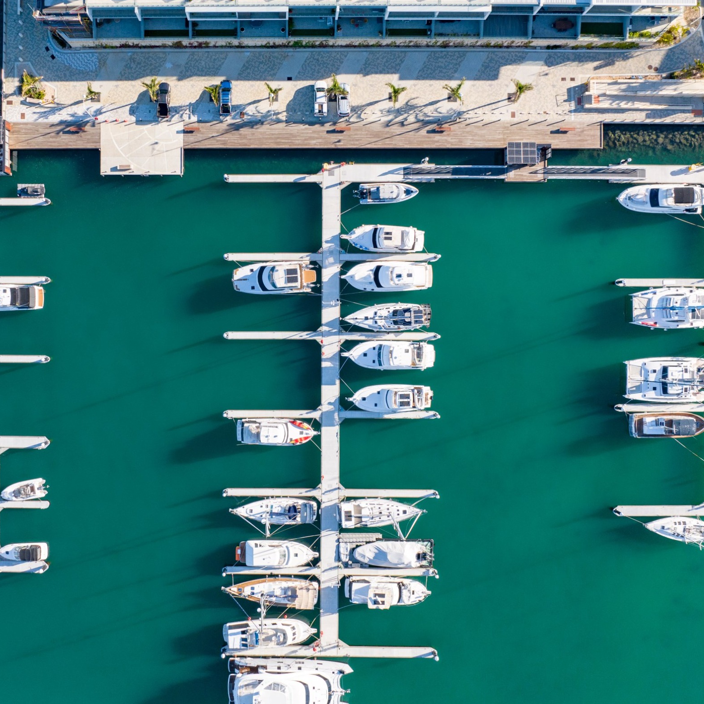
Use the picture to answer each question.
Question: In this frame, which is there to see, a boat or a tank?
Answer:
boat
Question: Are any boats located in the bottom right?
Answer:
Yes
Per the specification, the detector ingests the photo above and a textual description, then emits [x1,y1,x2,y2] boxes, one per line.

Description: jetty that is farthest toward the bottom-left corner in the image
[0,560,49,574]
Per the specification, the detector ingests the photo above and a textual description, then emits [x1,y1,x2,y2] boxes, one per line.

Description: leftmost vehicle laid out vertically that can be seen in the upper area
[156,82,172,119]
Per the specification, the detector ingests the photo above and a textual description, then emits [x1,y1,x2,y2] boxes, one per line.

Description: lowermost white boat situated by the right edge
[625,516,704,552]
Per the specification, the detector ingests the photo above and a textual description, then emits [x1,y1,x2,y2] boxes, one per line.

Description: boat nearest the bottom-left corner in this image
[0,540,48,561]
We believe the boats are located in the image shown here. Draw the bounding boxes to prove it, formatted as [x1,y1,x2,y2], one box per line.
[339,339,435,373]
[223,575,321,632]
[340,299,431,334]
[345,383,433,414]
[0,478,49,499]
[340,261,432,295]
[340,577,431,610]
[336,495,427,538]
[25,187,48,195]
[223,616,318,648]
[628,287,704,330]
[229,496,319,536]
[0,285,45,310]
[228,655,354,704]
[621,354,704,401]
[625,412,704,460]
[341,223,427,255]
[233,418,321,445]
[341,182,419,215]
[616,184,704,226]
[233,261,319,295]
[0,540,48,561]
[625,516,704,552]
[233,535,321,568]
[289,421,310,430]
